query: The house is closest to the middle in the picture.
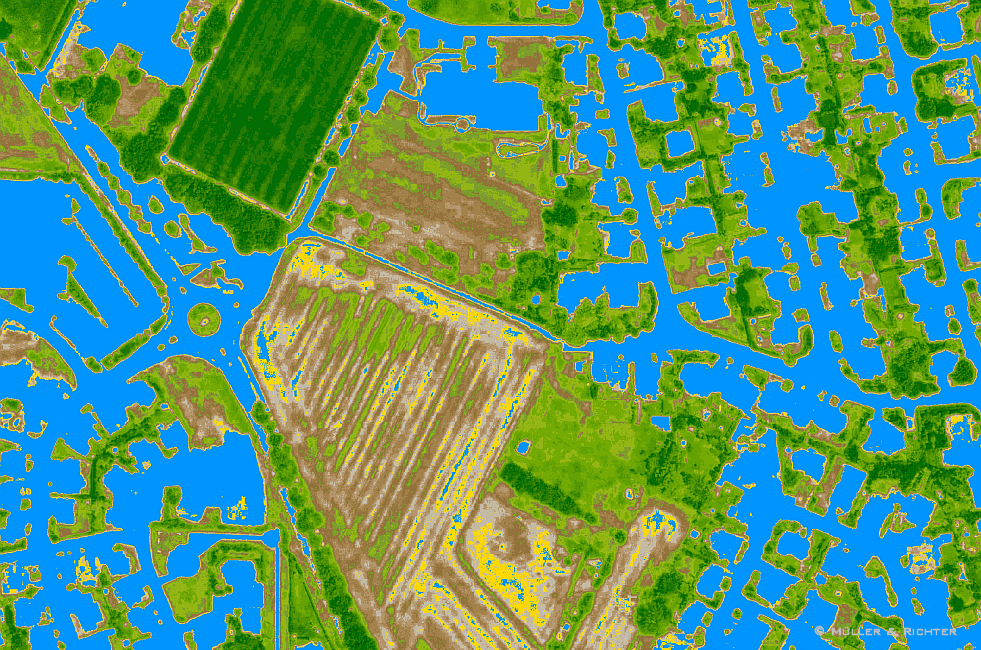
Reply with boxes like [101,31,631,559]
[565,277,590,298]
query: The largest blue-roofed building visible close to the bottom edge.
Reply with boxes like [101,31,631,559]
[236,579,260,629]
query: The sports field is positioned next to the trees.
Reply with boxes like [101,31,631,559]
[163,0,386,221]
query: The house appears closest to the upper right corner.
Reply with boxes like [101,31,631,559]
[935,19,959,40]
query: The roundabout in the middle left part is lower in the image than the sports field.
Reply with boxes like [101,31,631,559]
[175,290,234,349]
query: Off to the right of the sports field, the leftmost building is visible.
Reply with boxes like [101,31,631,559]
[429,95,535,114]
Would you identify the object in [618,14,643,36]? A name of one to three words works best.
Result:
house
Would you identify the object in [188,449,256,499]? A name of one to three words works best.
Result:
building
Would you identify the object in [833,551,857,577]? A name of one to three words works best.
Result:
house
